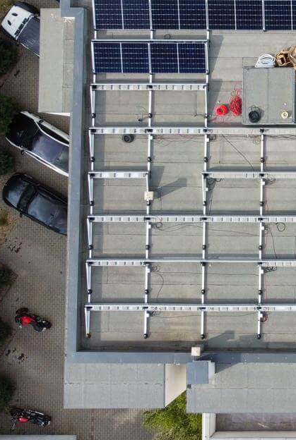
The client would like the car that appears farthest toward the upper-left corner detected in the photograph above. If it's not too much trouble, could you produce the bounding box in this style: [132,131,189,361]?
[1,2,41,54]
